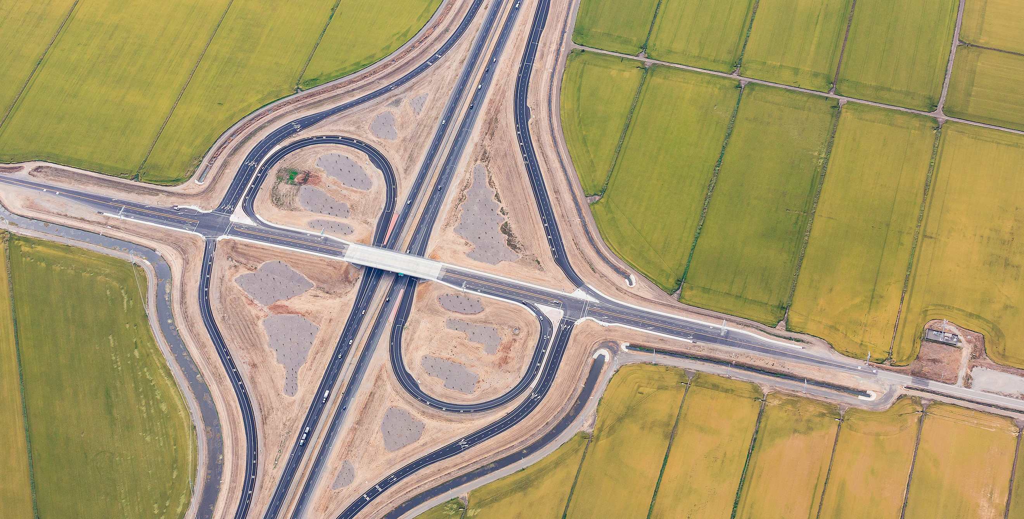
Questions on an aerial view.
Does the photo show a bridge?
Yes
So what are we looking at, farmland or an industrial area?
farmland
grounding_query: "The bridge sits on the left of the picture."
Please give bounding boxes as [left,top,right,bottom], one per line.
[340,242,446,283]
